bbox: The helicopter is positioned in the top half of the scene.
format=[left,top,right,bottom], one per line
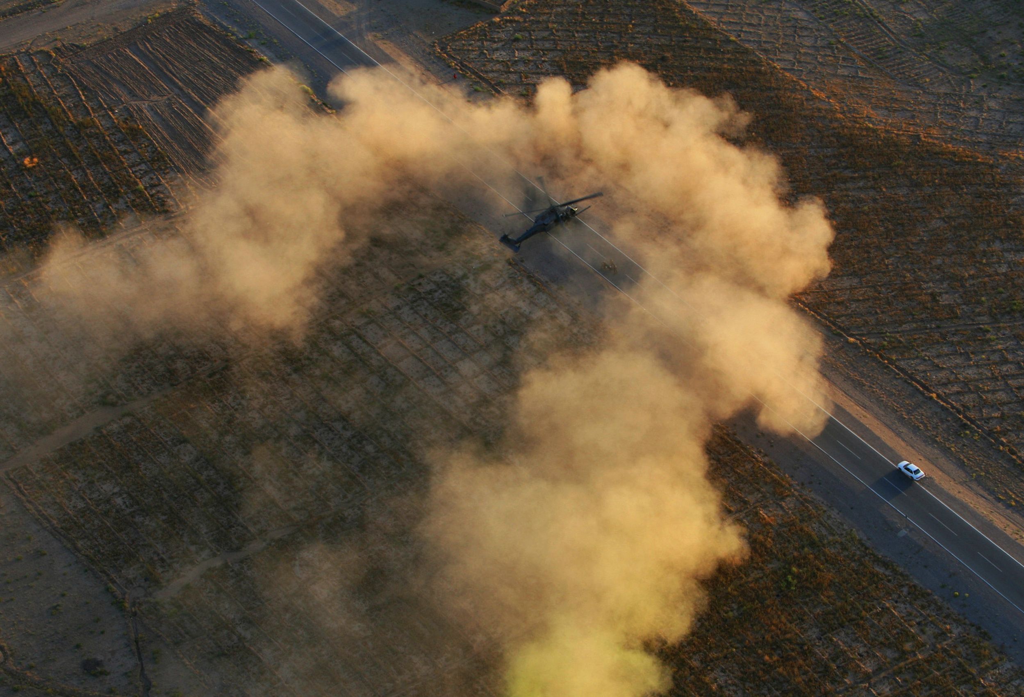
[494,177,601,252]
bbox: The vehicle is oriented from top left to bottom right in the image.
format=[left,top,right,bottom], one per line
[898,459,925,480]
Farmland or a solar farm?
farmland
